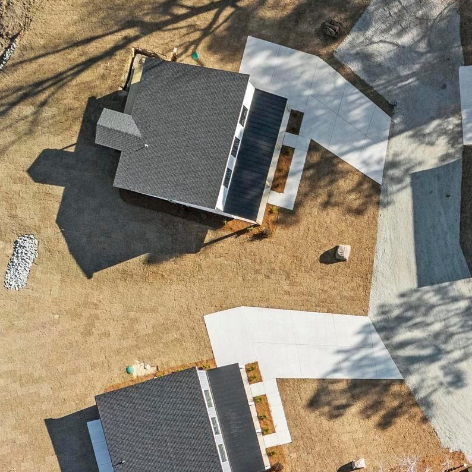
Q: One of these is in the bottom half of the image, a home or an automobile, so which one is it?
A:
home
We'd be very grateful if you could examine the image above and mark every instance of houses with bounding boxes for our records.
[93,364,270,472]
[94,57,289,227]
